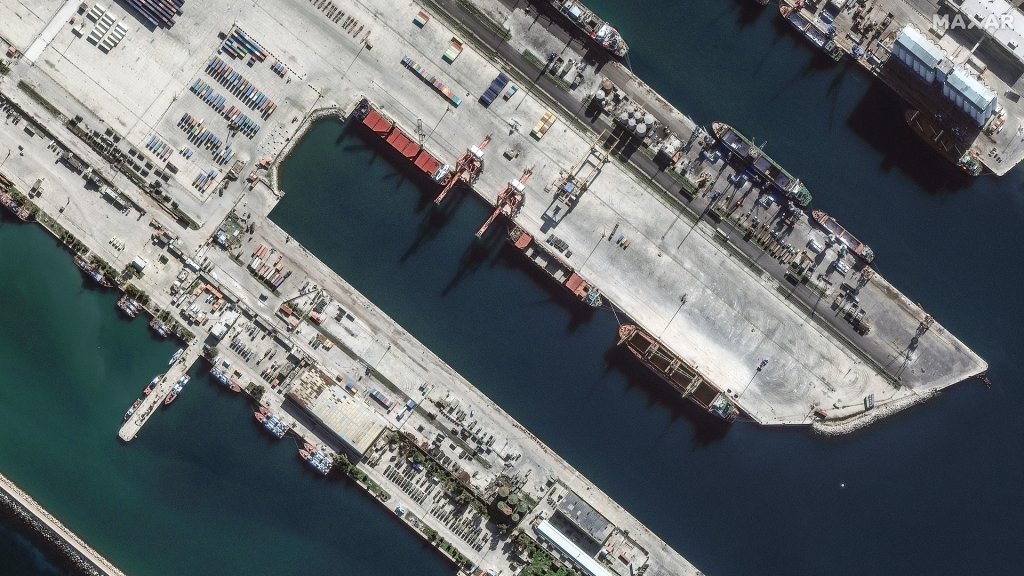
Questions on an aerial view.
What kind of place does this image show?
port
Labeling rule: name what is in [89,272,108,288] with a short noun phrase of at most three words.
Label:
boat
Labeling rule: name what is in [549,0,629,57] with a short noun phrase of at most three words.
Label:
ship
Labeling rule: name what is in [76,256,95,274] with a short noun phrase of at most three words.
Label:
boat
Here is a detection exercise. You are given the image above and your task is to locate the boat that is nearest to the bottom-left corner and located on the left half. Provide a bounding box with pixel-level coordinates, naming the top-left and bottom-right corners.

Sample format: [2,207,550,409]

[124,399,142,418]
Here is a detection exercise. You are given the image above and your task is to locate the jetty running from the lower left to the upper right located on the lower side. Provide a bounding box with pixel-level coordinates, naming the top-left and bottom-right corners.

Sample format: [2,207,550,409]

[119,345,204,442]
